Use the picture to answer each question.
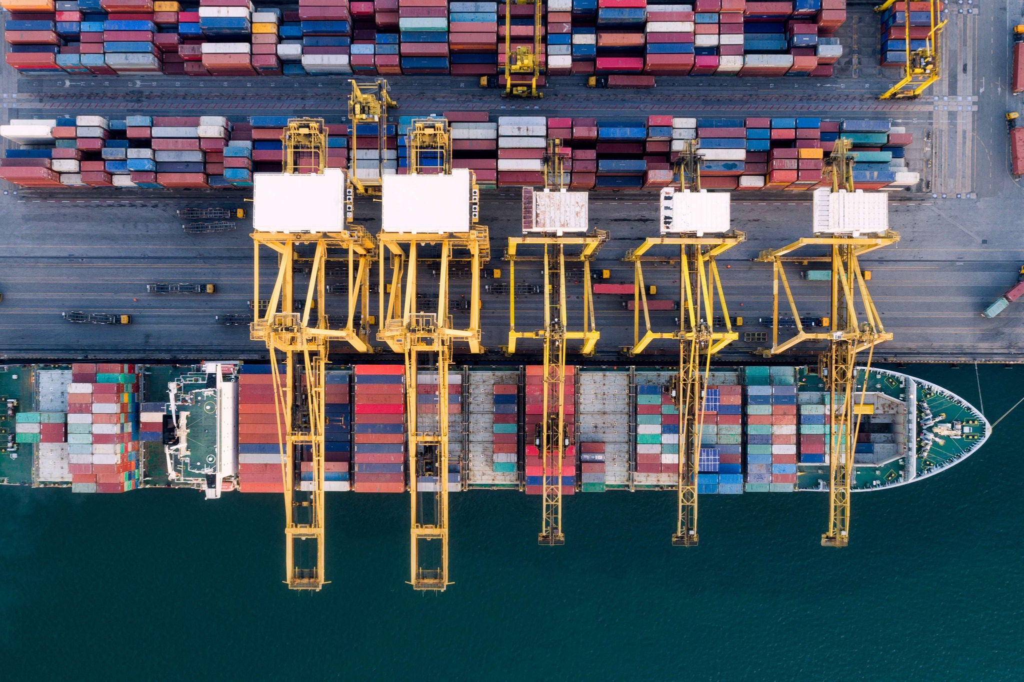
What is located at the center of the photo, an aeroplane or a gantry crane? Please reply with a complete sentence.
There is a gantry crane at the center of the photo.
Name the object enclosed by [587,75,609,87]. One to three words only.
vehicle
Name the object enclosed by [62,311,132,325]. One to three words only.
vehicle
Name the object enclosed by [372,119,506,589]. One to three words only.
container crane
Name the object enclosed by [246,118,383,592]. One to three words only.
container crane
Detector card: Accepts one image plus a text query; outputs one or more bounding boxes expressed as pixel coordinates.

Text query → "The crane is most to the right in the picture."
[871,0,944,98]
